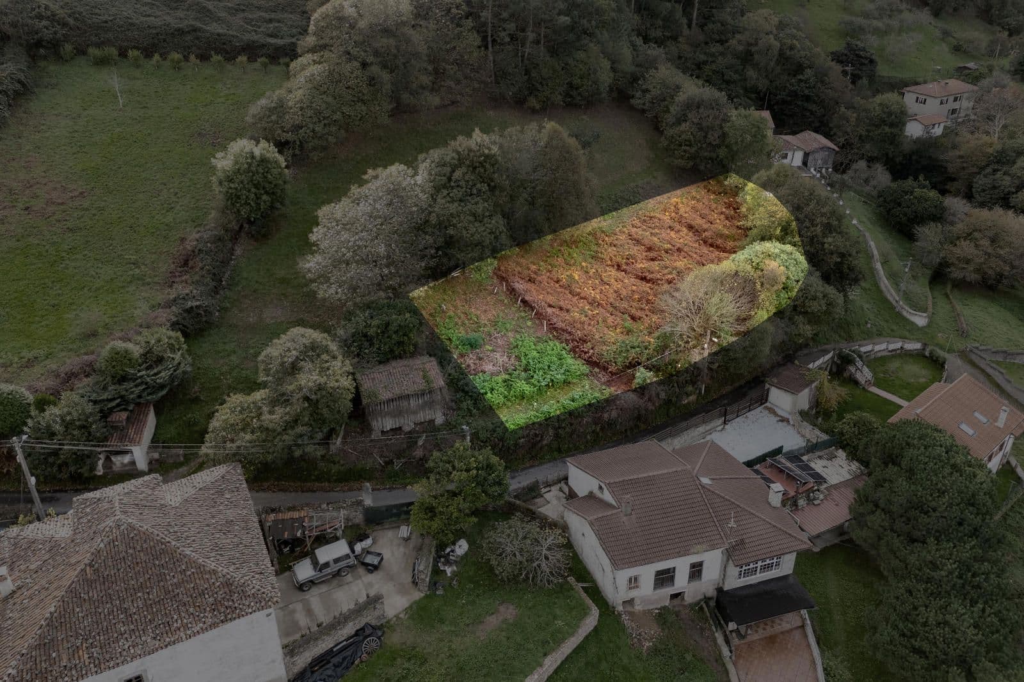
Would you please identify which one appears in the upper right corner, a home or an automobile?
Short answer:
home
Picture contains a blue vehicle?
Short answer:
No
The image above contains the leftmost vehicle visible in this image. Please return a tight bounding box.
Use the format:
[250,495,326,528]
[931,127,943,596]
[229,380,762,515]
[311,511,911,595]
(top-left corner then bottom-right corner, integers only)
[281,533,360,591]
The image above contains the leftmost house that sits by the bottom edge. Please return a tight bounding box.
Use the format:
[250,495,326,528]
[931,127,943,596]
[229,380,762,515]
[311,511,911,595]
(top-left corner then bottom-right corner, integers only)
[0,462,286,682]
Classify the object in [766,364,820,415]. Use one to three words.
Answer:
building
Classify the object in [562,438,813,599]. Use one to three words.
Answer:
house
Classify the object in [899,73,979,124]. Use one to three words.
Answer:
house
